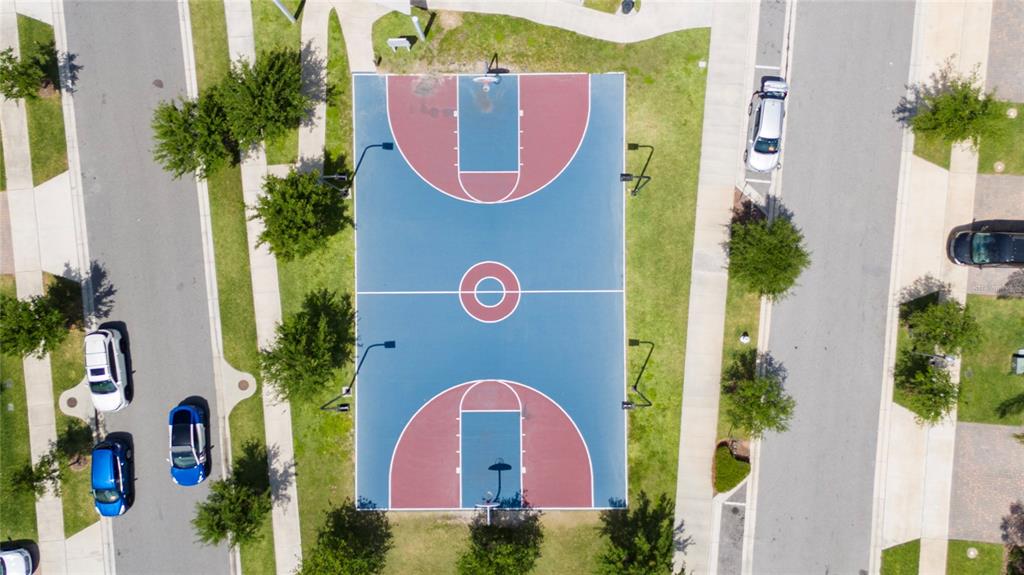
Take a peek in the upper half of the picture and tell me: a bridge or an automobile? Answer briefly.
automobile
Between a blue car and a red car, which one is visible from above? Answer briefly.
blue car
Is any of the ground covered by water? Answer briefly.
No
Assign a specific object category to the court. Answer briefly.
basketball court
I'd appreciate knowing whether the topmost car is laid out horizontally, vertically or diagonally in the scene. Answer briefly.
vertically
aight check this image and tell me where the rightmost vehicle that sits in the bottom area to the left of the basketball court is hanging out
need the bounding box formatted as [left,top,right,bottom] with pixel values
[166,405,207,485]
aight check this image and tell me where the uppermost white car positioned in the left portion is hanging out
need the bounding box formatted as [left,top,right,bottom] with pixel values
[84,329,131,411]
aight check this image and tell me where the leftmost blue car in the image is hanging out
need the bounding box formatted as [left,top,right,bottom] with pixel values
[90,441,132,516]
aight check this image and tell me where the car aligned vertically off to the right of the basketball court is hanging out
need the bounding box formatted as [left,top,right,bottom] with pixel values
[747,82,788,170]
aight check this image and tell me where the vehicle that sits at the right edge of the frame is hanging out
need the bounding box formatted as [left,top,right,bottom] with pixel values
[948,231,1024,269]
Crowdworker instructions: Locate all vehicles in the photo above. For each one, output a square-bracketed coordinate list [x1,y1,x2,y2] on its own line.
[0,549,33,575]
[166,405,207,485]
[948,231,1024,269]
[747,82,788,170]
[84,329,131,411]
[90,441,132,516]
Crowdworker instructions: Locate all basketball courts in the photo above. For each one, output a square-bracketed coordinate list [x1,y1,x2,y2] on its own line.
[353,72,628,512]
